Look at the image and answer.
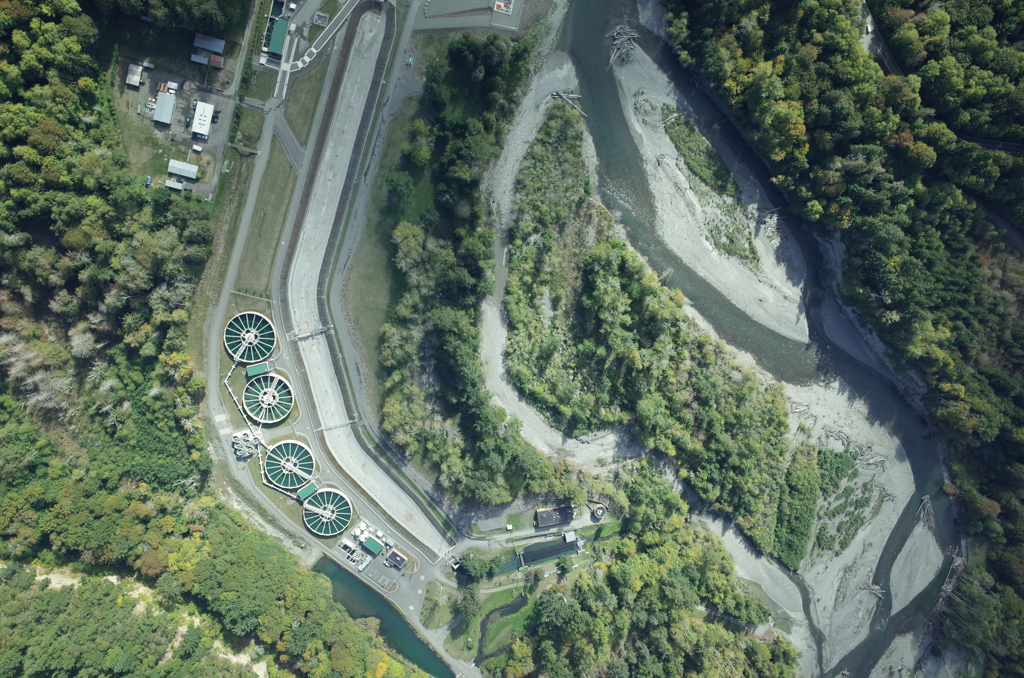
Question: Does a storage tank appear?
Yes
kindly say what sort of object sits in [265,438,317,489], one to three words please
storage tank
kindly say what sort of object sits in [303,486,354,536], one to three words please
storage tank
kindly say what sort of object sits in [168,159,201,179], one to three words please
house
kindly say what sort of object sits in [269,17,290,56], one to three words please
building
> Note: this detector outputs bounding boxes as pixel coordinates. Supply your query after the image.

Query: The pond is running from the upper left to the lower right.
[318,558,453,678]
